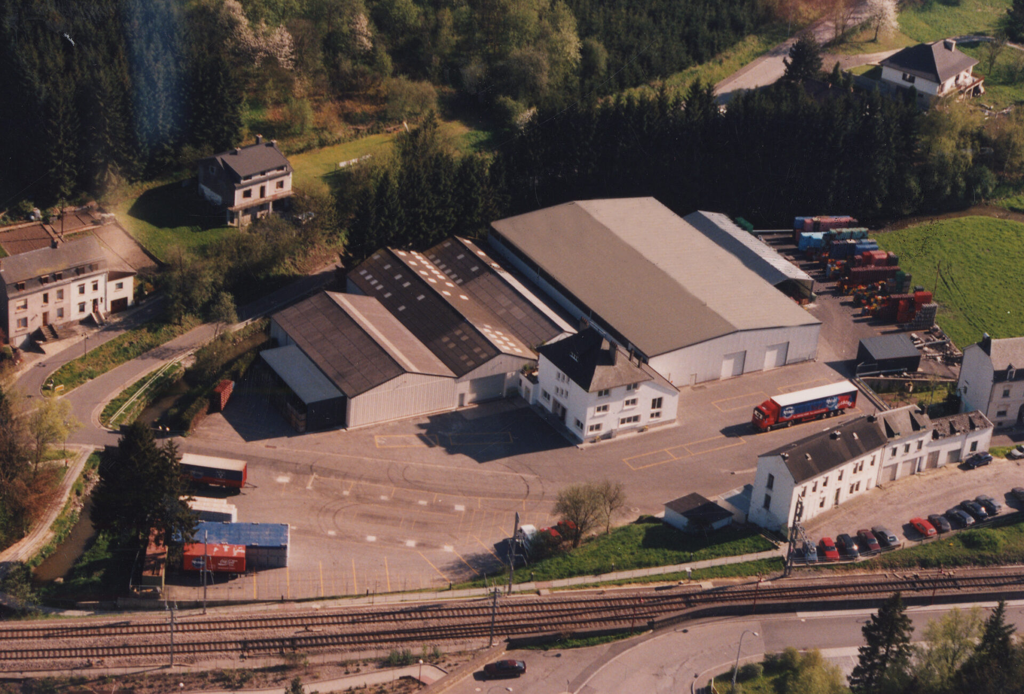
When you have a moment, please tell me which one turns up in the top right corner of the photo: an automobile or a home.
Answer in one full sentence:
Looking in the top right corner of the photo, you will find a home.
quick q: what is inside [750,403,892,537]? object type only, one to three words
house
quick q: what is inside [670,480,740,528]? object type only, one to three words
shed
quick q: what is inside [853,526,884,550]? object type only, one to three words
car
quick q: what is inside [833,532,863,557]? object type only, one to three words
car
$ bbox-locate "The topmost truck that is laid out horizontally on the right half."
[749,379,861,429]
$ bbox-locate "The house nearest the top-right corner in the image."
[879,49,994,118]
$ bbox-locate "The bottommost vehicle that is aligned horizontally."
[486,660,526,679]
